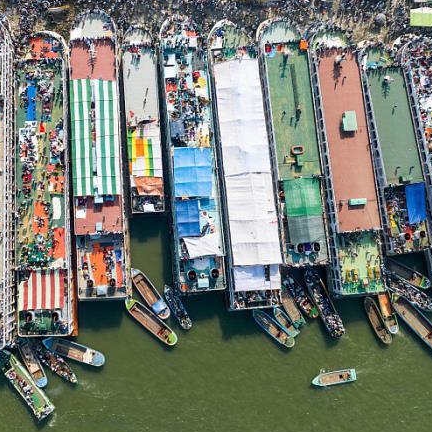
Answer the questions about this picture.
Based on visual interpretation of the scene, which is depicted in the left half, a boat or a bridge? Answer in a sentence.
What appears in the left half is a boat.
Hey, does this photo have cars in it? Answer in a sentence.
No, no car can be seen from above.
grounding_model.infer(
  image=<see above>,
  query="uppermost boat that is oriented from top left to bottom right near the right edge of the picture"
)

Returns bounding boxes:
[384,258,421,288]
